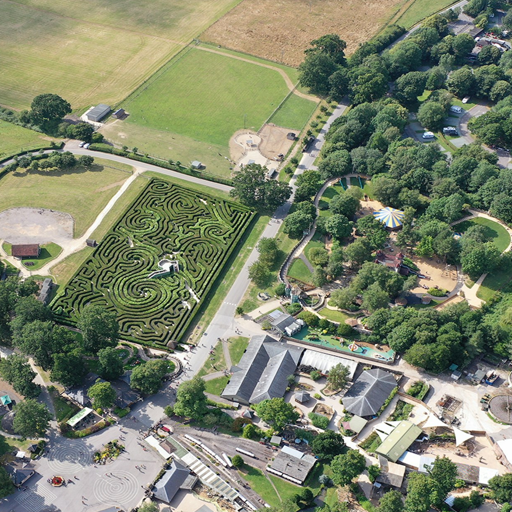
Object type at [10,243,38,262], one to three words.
barn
